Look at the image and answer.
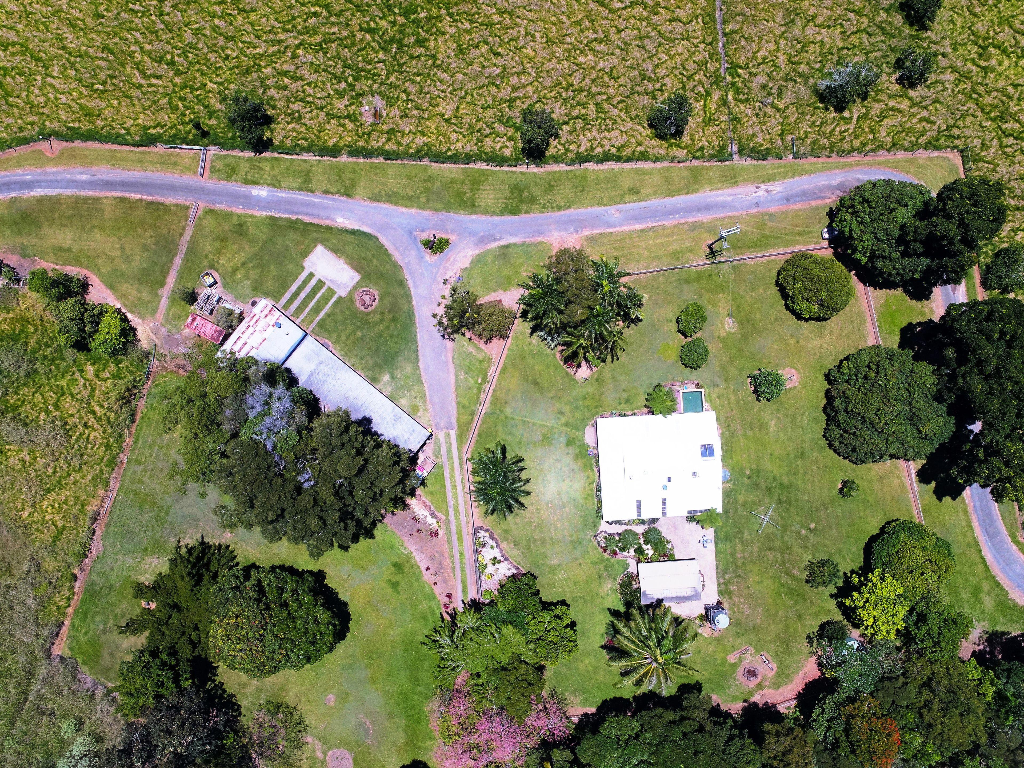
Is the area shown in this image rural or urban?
rural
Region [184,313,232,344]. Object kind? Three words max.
shed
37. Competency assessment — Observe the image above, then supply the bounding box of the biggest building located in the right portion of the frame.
[595,411,723,520]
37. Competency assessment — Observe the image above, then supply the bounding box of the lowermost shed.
[635,555,701,605]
